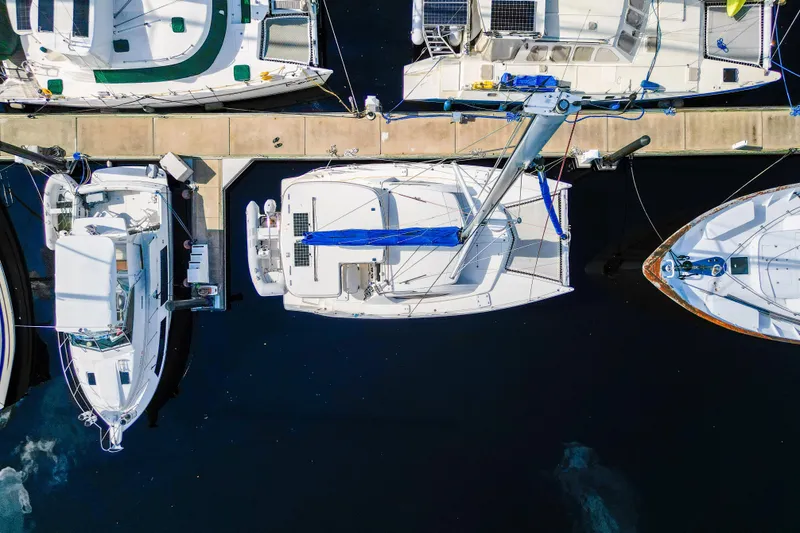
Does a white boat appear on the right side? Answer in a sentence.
Yes, a white boat is visible on the right side.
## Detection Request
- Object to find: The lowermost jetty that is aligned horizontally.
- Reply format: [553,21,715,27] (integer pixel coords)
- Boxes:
[0,106,800,188]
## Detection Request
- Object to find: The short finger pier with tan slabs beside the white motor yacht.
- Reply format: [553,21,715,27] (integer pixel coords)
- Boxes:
[192,158,230,309]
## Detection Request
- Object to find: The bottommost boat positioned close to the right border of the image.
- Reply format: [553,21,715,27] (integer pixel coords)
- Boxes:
[639,182,800,343]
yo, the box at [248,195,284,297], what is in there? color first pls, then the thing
white boat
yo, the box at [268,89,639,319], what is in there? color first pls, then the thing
white boat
